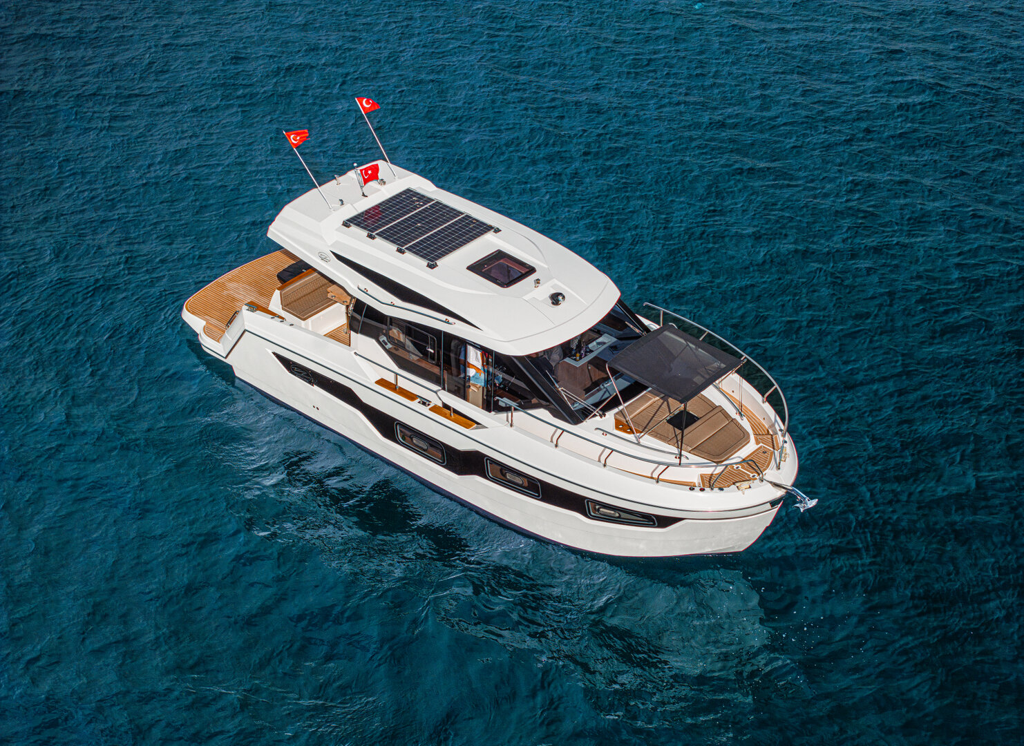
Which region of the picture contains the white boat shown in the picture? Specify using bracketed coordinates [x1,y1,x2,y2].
[184,160,818,561]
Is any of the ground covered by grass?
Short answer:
No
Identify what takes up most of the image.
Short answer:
water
